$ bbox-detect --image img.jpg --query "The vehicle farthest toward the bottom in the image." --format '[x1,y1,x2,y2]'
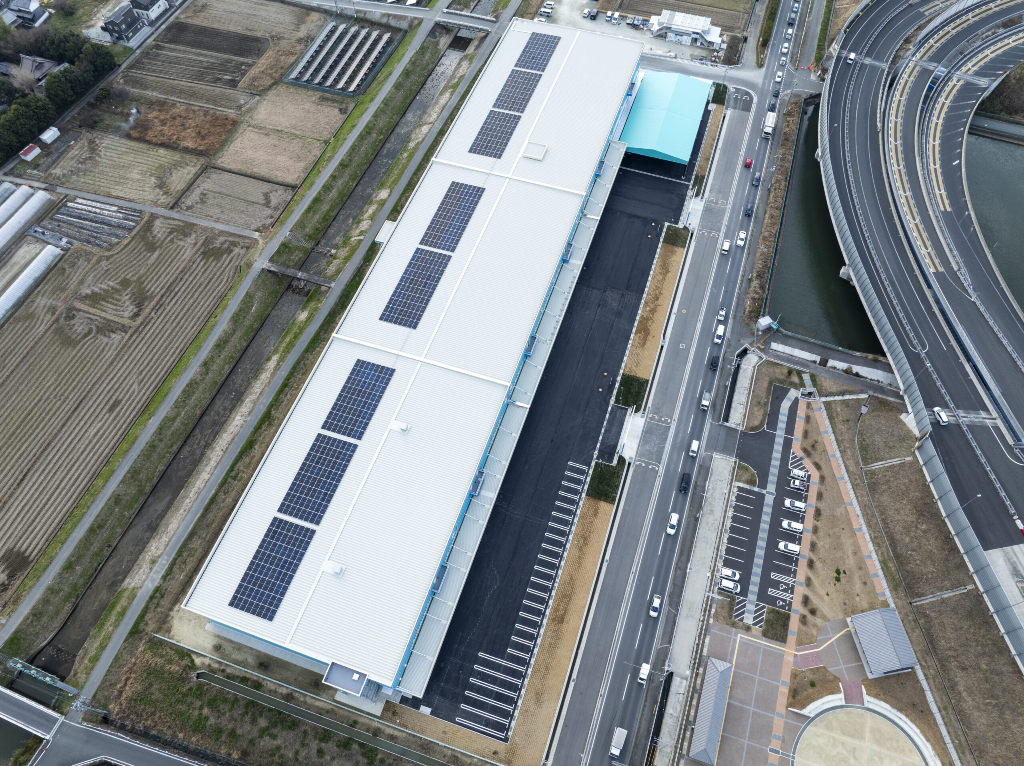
[609,725,628,760]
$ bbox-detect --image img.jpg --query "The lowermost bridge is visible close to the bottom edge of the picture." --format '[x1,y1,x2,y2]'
[0,684,65,740]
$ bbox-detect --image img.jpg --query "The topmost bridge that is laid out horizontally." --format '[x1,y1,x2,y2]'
[435,6,497,32]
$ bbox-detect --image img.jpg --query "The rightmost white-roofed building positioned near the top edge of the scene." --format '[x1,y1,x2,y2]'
[648,8,721,51]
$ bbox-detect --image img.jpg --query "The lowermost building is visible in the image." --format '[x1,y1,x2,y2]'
[689,657,733,766]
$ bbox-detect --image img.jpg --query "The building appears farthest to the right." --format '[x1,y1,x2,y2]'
[848,607,917,682]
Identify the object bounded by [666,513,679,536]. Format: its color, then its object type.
white vehicle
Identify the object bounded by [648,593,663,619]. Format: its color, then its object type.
white car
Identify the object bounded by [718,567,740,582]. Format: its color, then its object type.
white car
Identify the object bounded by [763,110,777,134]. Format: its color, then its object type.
white vehicle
